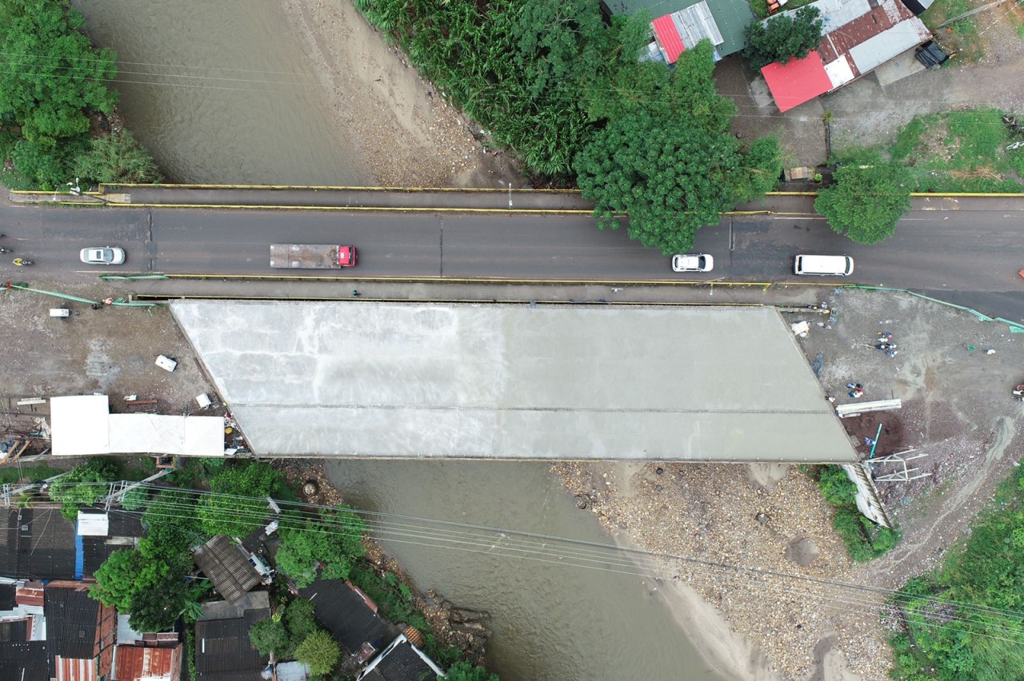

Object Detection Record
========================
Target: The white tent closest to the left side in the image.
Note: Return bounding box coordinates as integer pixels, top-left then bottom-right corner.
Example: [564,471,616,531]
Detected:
[51,394,122,456]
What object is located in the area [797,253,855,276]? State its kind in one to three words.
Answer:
vehicle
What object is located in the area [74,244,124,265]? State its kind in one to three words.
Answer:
car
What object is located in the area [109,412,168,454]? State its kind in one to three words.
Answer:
tent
